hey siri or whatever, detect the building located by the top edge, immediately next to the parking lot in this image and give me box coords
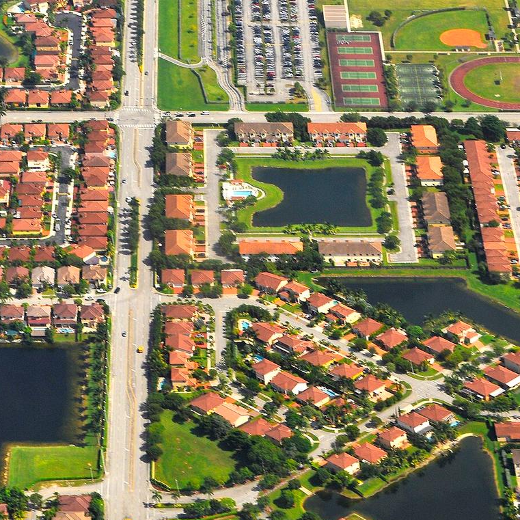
[322,4,349,32]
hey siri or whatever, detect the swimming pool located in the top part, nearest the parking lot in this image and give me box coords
[223,183,265,200]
